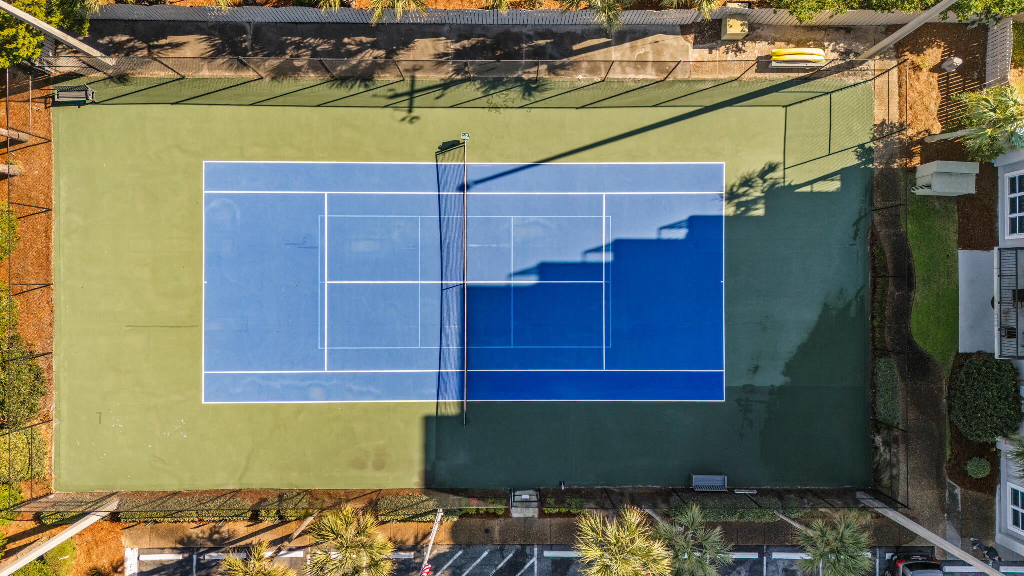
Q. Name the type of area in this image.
sports ground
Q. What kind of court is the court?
tennis court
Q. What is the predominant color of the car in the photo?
black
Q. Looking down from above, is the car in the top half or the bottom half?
bottom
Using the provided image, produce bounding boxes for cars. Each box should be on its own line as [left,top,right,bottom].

[888,550,940,576]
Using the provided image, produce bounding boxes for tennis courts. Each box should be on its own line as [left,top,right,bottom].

[52,78,873,492]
